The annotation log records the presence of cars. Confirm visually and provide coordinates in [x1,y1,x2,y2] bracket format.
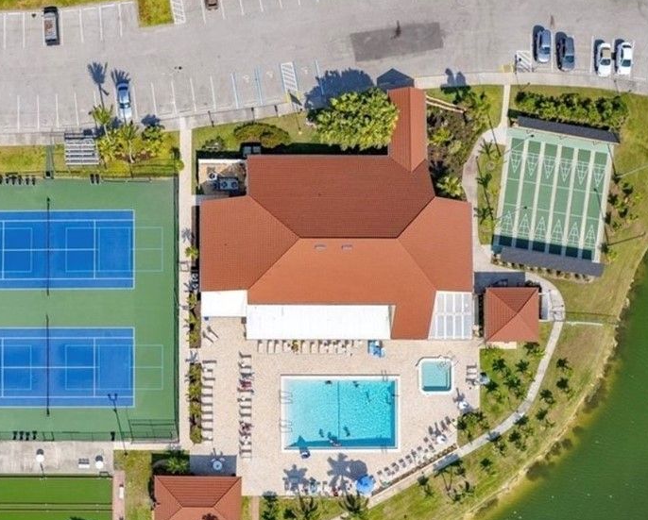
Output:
[615,39,634,74]
[556,34,576,70]
[42,8,60,42]
[594,40,614,75]
[205,0,218,10]
[116,83,133,120]
[535,26,554,62]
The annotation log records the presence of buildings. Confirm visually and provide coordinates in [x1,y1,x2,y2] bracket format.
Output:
[199,87,474,340]
[154,475,243,520]
[476,287,540,348]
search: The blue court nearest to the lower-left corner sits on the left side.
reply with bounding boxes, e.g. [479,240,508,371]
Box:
[0,314,162,416]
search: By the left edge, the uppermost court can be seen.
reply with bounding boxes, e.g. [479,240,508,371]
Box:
[0,196,162,296]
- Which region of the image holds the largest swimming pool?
bottom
